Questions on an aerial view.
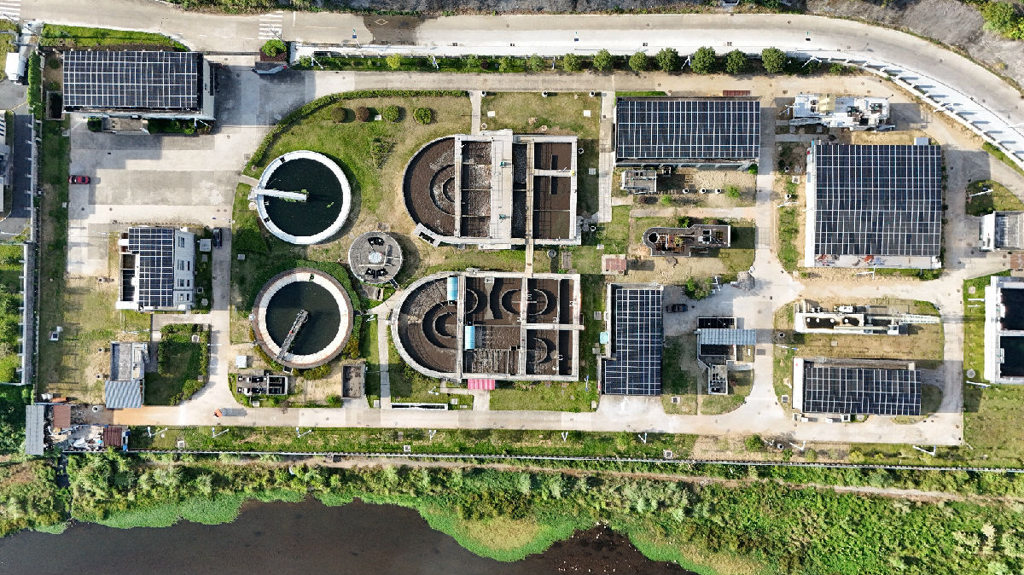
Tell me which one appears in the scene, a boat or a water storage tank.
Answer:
water storage tank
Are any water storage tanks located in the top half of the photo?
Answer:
Yes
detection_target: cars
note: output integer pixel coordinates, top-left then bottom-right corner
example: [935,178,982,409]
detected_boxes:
[665,304,687,312]
[70,175,91,184]
[212,228,222,248]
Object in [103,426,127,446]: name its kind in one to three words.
shed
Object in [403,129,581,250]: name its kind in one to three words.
water tank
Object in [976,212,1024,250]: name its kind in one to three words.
building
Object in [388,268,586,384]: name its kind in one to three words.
water tank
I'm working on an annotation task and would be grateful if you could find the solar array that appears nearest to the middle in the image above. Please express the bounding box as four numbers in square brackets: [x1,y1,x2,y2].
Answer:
[605,289,662,395]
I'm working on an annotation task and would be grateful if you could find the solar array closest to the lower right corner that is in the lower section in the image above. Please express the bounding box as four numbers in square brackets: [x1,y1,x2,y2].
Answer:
[805,368,921,415]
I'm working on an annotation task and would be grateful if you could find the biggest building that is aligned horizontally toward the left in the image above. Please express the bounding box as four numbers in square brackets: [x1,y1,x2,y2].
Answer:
[64,51,214,119]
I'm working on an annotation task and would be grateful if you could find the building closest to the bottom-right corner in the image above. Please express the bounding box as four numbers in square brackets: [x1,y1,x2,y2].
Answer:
[785,356,921,415]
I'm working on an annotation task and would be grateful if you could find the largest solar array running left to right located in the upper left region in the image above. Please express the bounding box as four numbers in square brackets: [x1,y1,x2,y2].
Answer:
[64,51,197,108]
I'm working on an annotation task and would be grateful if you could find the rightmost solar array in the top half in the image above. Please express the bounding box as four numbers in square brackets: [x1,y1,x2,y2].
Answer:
[815,145,942,256]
